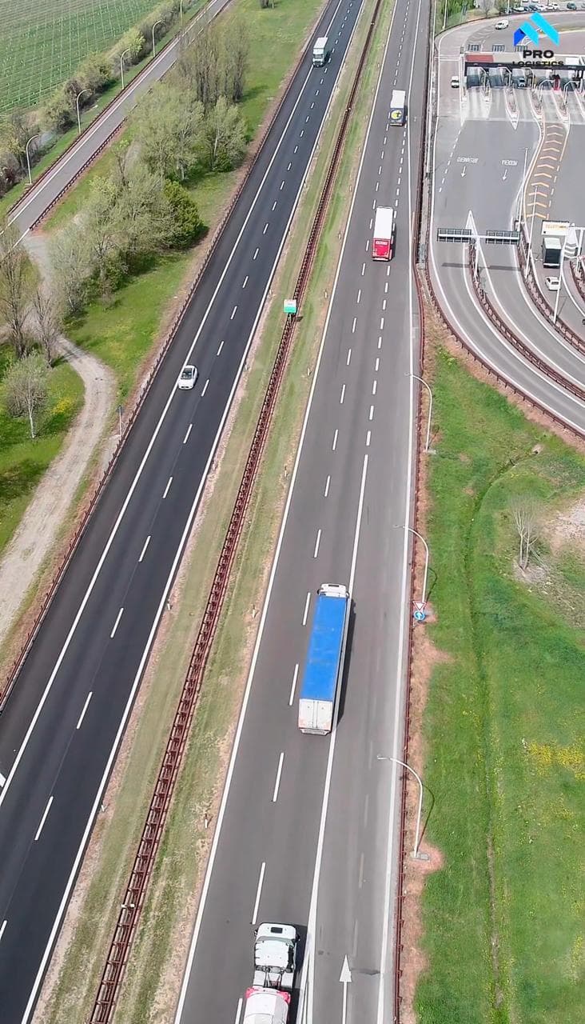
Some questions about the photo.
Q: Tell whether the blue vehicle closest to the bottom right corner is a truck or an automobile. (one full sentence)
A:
The blue vehicle closest to the bottom right corner can be classified as a truck.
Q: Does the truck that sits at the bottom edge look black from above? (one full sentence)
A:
No, the color of the truck that sits at the bottom edge is white.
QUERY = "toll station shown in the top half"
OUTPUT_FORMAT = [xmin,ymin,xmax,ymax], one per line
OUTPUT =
[451,40,585,123]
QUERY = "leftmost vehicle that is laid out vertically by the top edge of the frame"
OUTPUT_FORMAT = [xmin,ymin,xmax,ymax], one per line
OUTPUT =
[314,35,331,65]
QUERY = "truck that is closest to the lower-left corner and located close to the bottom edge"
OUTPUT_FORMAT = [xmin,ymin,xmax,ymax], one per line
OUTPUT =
[241,922,300,1024]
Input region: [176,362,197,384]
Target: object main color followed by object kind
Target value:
white car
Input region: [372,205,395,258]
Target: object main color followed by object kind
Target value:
white truck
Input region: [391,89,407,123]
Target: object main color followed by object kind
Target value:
white vehicle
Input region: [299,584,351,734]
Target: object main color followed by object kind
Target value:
blue truck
